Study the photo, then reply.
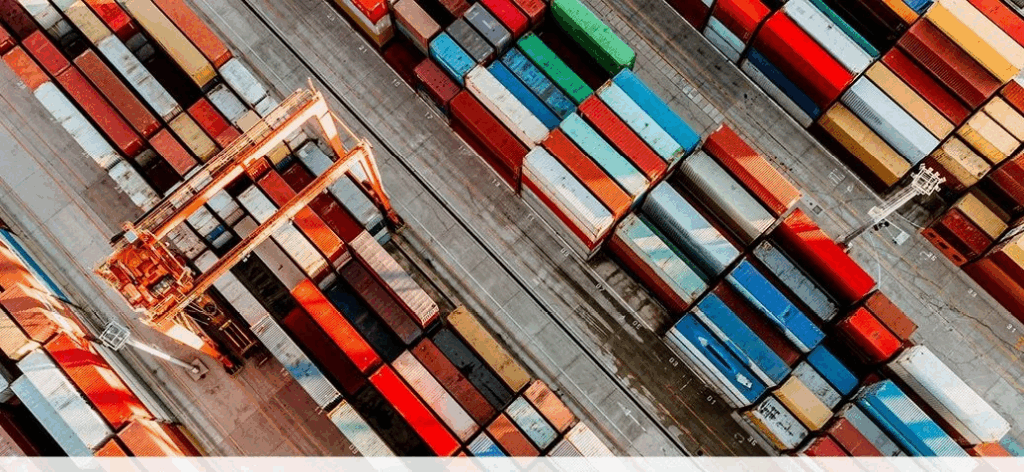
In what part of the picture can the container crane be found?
left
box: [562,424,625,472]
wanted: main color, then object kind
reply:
white shipping container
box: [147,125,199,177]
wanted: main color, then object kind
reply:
red shipping container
